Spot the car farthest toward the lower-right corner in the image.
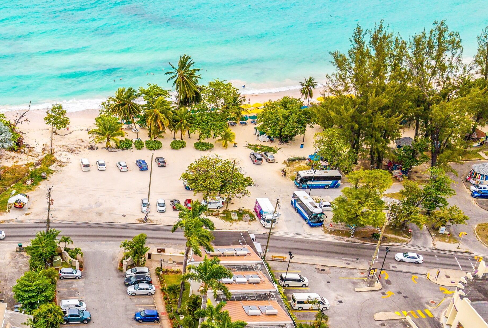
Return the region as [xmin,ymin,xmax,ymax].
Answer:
[394,252,424,264]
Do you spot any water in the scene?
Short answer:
Yes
